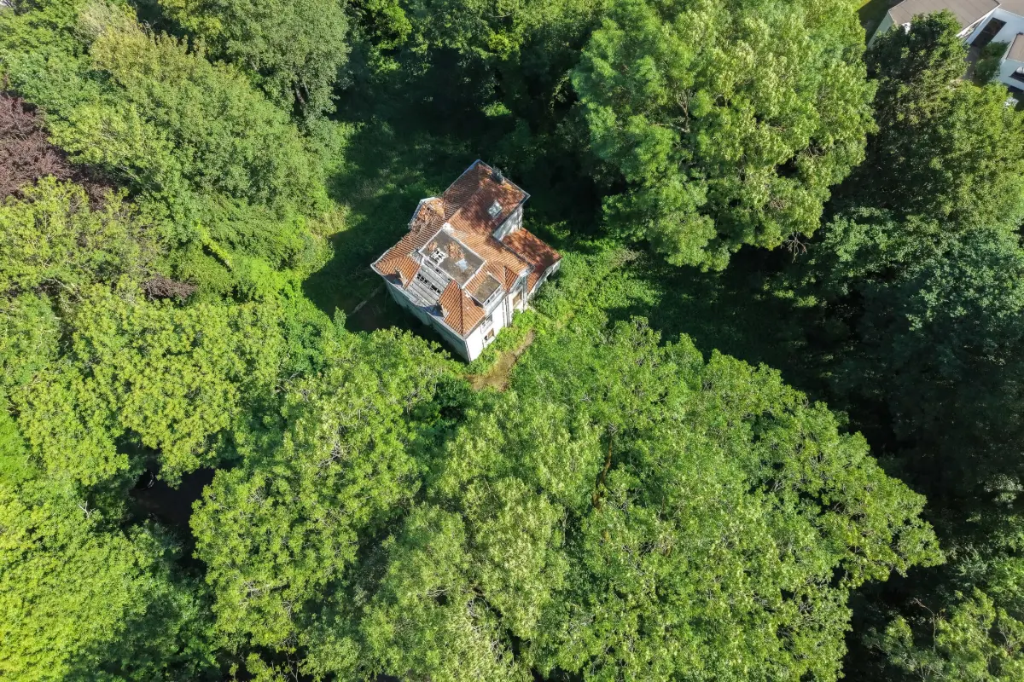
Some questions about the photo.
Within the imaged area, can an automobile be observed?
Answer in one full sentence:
No, there isn't any automobile down there.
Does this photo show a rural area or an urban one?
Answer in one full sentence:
The land in this view is best described as rural.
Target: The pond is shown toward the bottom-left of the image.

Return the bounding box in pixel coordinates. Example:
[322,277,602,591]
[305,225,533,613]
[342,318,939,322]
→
[136,465,223,553]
